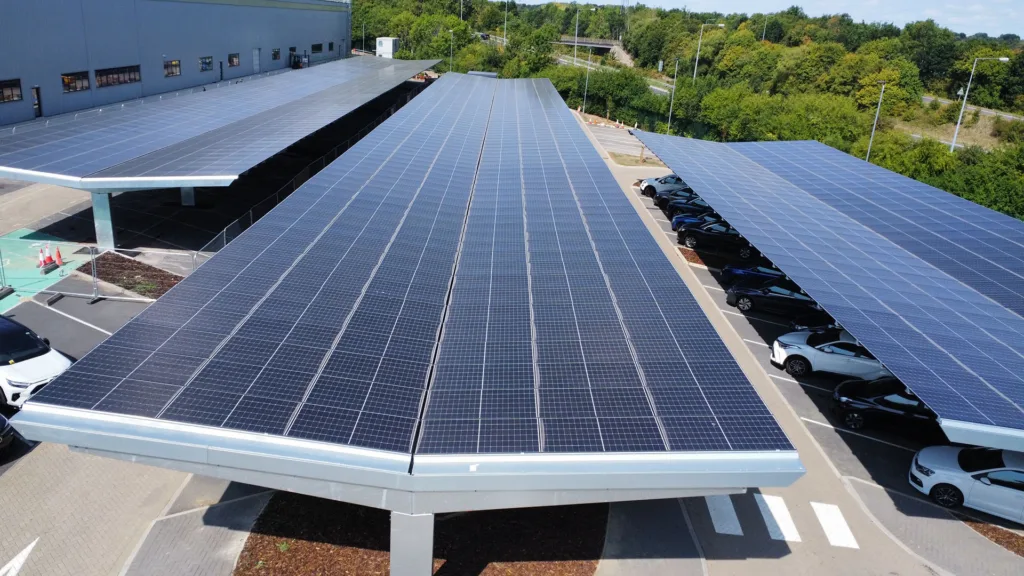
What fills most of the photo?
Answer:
buildings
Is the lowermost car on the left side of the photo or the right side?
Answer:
right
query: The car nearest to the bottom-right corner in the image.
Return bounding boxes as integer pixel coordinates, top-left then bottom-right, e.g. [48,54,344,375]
[908,436,1024,519]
